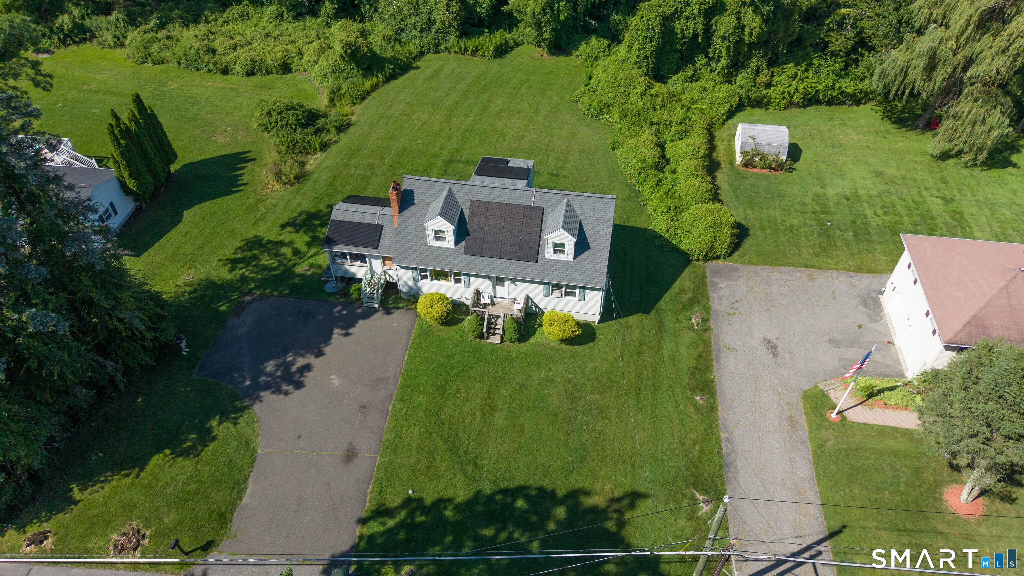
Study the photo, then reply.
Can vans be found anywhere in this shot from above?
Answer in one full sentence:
No, there appears to be no van in this shot.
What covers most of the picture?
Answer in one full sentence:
Most of the picture is covered by grass.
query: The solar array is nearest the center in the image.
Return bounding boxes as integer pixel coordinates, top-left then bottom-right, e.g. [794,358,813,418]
[464,202,543,262]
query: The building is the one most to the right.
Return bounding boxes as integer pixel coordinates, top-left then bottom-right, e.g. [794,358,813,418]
[875,232,1024,382]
